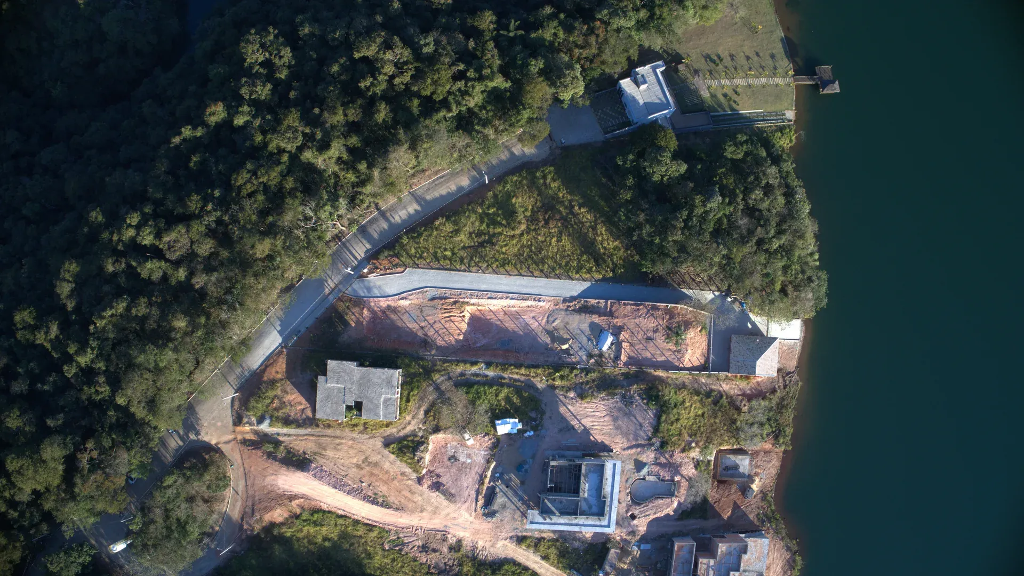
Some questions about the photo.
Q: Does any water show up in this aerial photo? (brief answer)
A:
Yes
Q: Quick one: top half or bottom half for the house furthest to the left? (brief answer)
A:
bottom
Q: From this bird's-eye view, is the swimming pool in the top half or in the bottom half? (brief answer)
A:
bottom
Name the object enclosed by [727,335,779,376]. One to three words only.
house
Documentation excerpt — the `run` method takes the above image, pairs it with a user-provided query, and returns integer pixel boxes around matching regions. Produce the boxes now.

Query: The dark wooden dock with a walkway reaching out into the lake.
[793,65,835,85]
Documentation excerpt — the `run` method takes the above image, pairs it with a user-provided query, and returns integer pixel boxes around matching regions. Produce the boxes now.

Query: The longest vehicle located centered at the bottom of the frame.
[460,429,476,450]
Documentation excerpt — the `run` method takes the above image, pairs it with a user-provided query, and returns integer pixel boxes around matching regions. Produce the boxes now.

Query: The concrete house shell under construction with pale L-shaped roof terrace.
[527,445,621,533]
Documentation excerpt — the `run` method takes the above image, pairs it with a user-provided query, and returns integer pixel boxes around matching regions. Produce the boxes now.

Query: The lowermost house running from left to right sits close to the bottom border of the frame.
[667,535,769,576]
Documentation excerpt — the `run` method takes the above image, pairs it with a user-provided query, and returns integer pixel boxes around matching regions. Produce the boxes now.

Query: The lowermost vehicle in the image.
[106,537,130,554]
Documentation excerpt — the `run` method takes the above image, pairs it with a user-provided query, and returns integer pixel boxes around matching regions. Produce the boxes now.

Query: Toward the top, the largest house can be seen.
[617,61,675,129]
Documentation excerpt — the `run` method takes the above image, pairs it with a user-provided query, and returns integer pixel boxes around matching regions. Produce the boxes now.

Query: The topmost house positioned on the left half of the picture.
[316,360,403,421]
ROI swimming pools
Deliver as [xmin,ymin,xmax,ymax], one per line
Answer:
[629,475,677,503]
